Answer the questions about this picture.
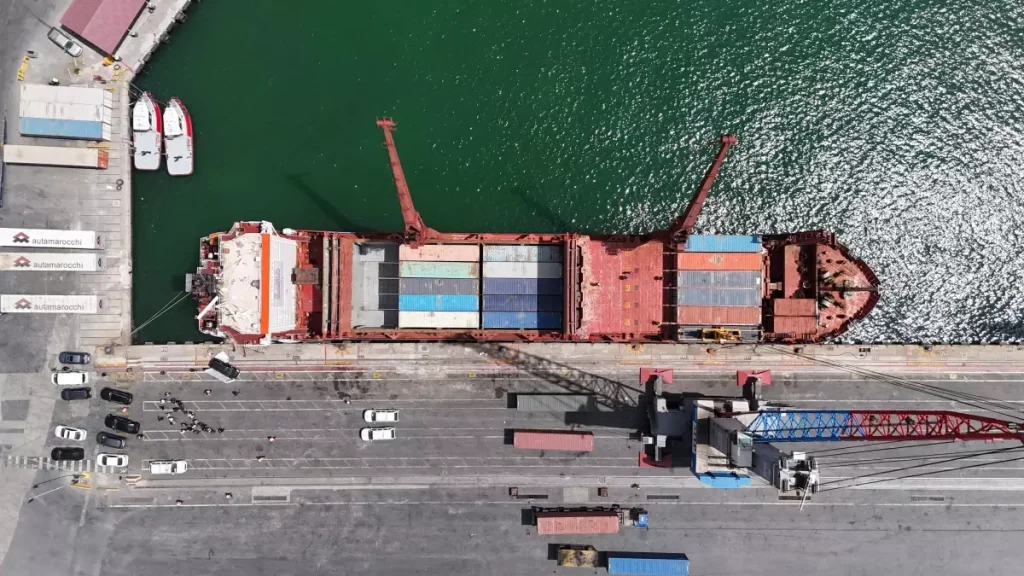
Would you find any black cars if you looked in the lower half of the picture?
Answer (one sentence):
Yes, I can see a black car in the lower half of the picture.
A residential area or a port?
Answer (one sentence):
It's a port.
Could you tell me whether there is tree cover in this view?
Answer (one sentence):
No, the scene doesn't show any tree cover.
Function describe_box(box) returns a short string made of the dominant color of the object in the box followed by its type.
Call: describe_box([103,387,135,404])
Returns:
black car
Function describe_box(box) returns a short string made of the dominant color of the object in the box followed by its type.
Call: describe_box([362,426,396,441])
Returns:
white car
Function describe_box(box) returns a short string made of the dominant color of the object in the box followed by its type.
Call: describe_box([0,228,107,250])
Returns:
white trailer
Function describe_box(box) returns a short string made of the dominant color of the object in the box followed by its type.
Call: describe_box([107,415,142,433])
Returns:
black vehicle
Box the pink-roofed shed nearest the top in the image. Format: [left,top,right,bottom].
[61,0,153,56]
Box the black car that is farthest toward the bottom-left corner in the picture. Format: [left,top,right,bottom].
[53,446,87,460]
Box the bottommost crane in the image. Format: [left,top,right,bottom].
[639,333,1024,514]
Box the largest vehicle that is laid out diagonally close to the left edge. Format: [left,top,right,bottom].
[50,28,85,58]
